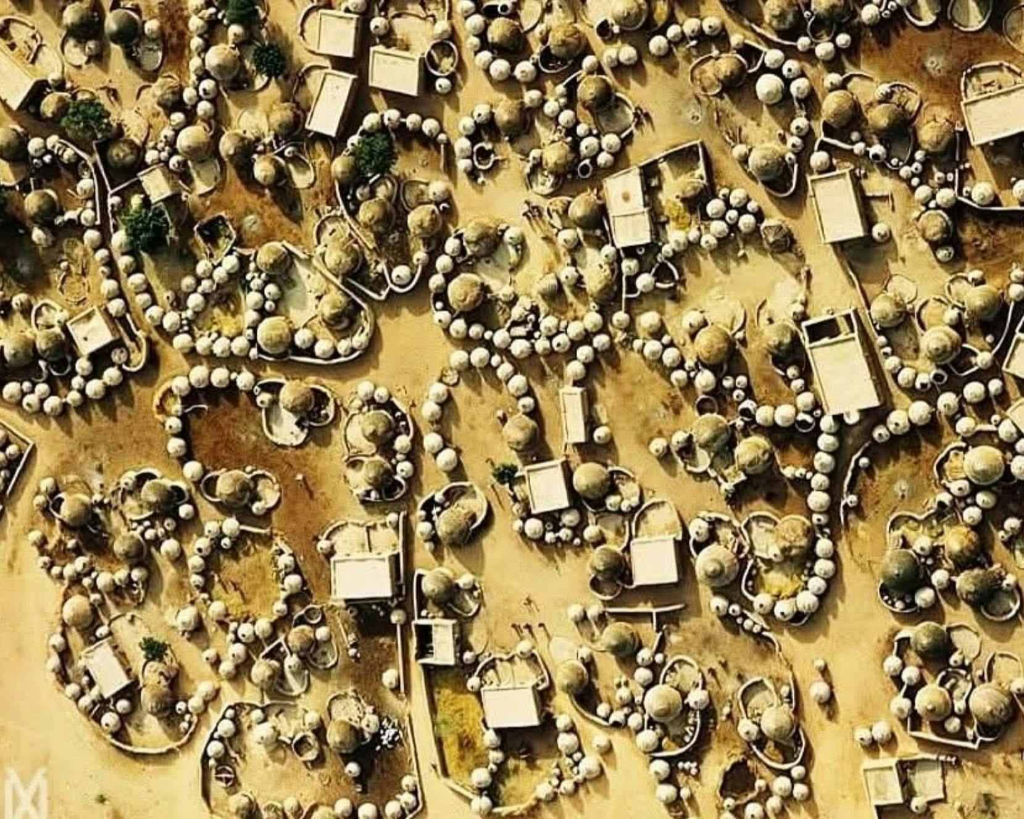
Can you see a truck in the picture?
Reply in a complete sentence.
No, I can see no truck in this picture.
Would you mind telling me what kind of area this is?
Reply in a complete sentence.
This image shows a residential area.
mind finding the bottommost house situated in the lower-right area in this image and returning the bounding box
[863,754,905,804]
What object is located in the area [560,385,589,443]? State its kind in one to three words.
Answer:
house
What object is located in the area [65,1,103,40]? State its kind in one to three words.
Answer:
shed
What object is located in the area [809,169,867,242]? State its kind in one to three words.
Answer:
house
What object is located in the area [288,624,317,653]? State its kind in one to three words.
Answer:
shed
